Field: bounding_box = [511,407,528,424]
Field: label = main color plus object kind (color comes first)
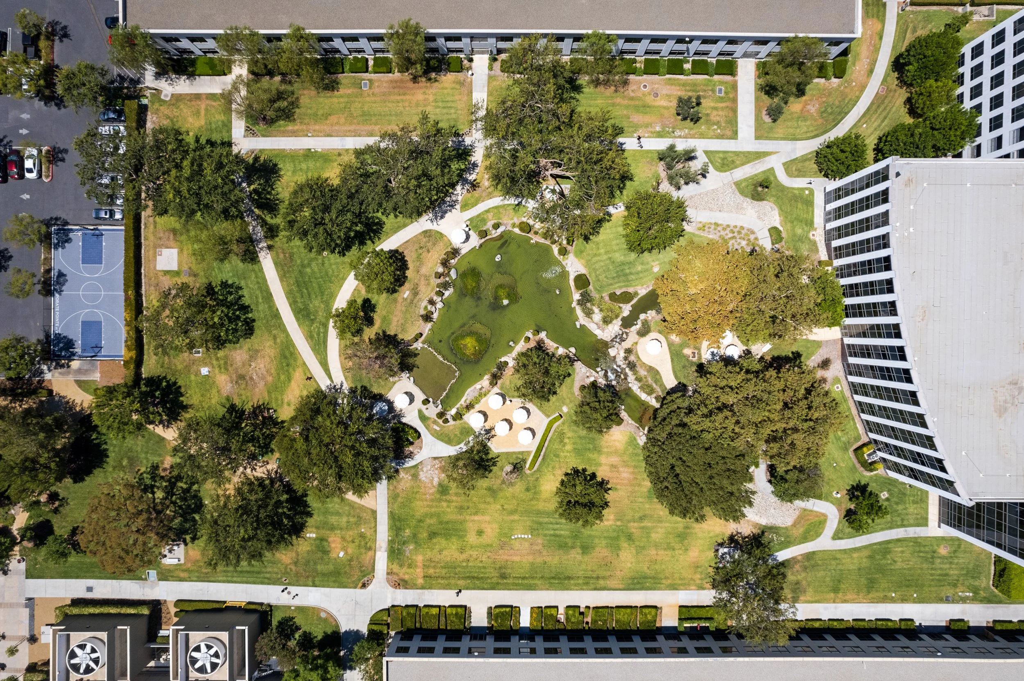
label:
white umbrella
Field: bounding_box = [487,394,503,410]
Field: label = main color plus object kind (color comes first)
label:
white umbrella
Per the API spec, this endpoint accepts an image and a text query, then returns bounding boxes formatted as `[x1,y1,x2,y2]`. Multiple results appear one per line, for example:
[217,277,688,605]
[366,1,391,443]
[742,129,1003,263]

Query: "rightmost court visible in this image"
[52,226,126,360]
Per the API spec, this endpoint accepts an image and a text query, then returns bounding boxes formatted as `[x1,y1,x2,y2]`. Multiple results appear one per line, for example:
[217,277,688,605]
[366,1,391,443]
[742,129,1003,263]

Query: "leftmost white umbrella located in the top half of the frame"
[450,228,467,244]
